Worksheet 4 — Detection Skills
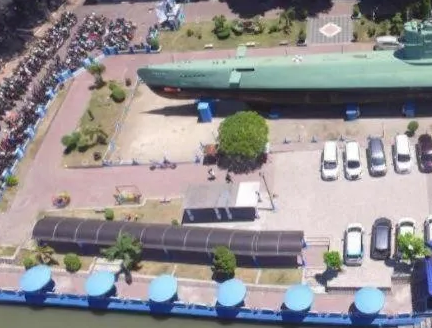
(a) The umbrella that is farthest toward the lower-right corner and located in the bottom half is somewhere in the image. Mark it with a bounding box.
[355,288,384,317]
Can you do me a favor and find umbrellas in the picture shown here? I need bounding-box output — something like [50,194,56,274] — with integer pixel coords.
[148,276,178,304]
[23,266,56,295]
[216,280,248,310]
[85,271,117,300]
[355,288,384,317]
[284,285,314,315]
